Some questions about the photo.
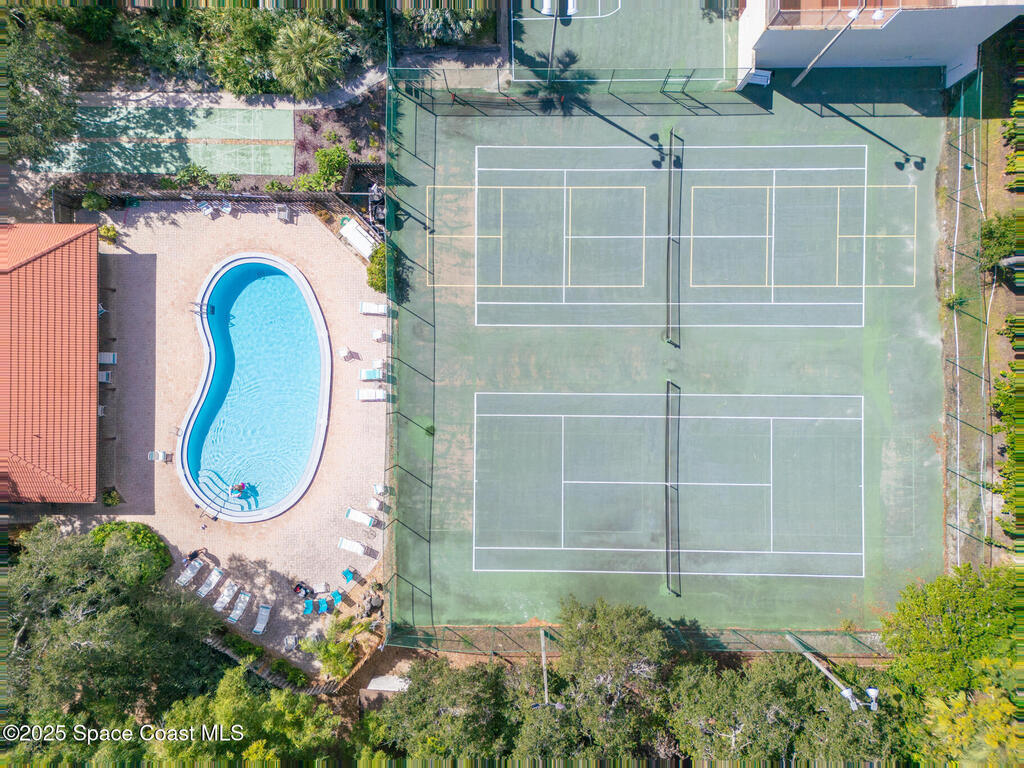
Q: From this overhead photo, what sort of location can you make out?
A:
sports ground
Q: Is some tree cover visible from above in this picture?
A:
Yes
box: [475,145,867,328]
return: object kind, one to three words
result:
tennis court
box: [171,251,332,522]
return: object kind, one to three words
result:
swimming pool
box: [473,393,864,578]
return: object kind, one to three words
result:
tennis court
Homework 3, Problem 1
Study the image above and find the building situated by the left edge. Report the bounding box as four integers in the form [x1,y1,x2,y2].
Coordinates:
[0,221,117,505]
